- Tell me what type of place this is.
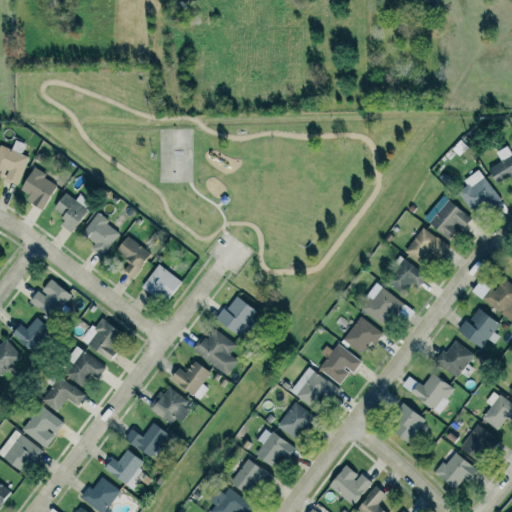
residential area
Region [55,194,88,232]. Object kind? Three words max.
house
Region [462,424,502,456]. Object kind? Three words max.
house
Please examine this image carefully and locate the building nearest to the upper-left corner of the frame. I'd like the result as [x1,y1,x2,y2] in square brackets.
[0,141,29,185]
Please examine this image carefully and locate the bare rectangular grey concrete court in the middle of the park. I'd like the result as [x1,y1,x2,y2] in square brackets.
[160,129,194,183]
